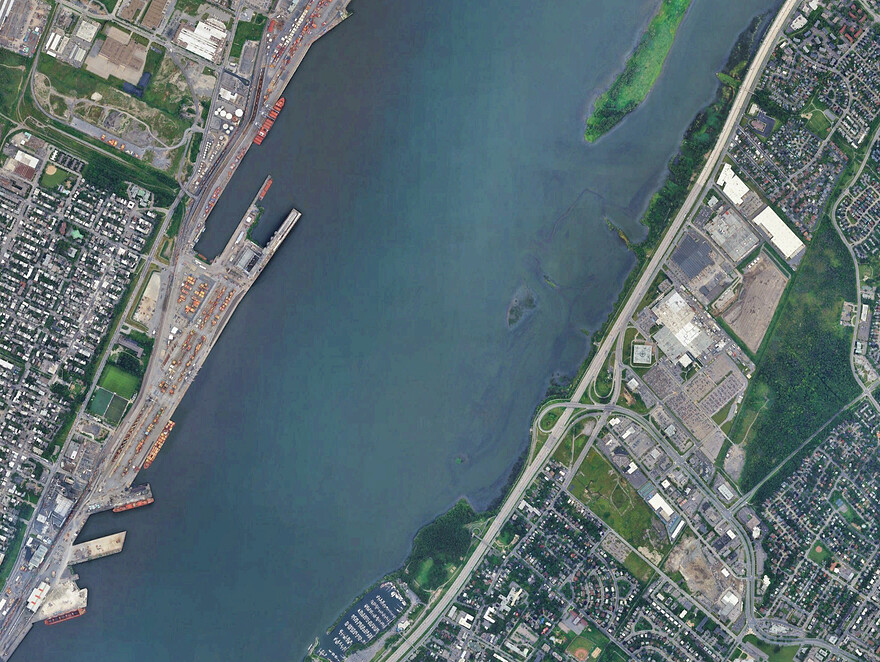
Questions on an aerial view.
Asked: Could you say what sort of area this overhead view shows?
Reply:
port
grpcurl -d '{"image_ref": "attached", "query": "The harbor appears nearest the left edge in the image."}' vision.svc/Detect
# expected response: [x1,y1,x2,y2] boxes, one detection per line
[0,0,351,662]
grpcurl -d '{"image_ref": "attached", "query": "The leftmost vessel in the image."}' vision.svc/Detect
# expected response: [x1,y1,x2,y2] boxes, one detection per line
[45,608,88,624]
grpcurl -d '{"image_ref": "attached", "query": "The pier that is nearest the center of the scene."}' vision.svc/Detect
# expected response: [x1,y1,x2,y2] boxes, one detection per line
[262,209,302,249]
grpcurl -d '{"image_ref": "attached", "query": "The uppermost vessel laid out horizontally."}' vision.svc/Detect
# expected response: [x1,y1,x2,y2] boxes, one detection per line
[113,499,154,512]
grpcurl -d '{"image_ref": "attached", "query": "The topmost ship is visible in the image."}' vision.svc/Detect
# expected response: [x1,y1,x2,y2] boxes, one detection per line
[254,97,285,144]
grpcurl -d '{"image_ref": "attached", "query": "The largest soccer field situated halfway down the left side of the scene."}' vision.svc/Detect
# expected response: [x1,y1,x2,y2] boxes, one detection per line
[98,362,142,401]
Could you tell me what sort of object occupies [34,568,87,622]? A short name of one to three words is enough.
pier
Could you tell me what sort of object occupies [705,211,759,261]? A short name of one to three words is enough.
building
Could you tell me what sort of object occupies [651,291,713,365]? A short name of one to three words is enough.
building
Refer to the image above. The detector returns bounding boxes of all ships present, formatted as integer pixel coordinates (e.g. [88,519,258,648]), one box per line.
[45,608,88,624]
[259,179,272,200]
[145,420,175,469]
[254,97,285,144]
[113,499,154,512]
